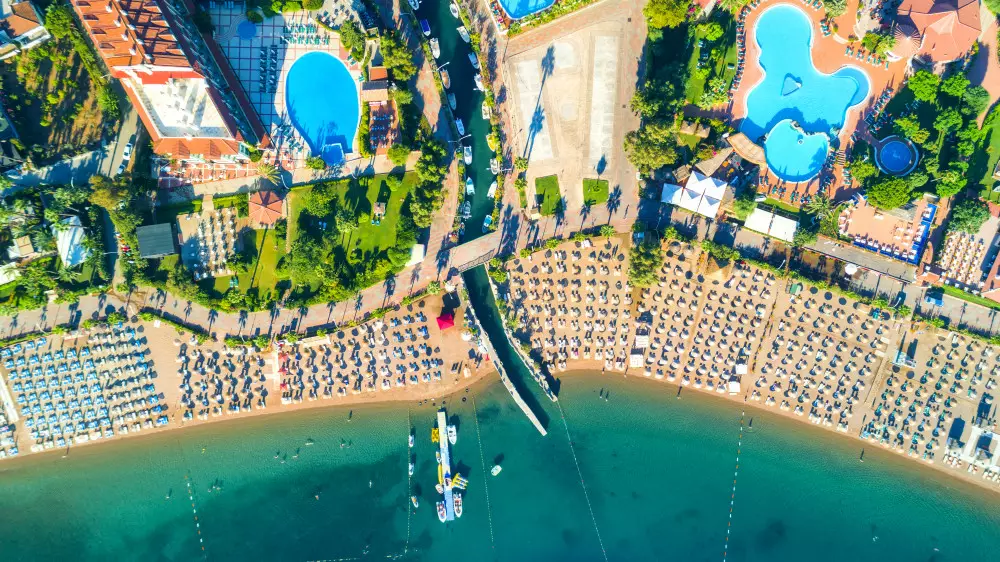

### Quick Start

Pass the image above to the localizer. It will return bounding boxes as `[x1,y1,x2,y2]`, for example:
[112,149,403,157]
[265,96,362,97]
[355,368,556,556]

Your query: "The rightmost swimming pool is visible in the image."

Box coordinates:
[874,134,919,177]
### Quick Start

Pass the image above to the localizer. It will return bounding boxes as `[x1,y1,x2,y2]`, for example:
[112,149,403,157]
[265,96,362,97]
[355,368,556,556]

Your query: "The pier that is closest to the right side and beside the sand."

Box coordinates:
[460,272,547,436]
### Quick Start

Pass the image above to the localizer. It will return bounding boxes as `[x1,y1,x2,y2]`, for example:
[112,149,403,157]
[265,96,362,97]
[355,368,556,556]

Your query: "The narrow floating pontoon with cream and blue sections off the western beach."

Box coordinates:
[437,411,457,520]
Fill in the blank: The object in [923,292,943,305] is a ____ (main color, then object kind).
blue vehicle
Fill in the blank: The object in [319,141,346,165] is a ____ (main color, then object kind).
blue swimming pool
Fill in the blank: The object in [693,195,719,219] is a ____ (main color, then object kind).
white tent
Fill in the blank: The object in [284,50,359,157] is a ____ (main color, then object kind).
blue swimming pool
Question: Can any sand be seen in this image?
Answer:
Yes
